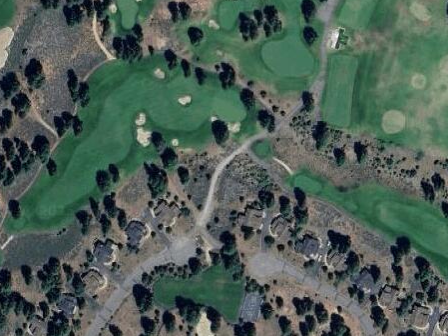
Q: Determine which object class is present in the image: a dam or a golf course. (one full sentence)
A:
The image shows a golf course.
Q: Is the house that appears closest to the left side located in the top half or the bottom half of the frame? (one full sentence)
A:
You can find the house that appears closest to the left side in the bottom half.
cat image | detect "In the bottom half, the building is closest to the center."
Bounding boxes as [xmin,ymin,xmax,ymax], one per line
[237,204,266,228]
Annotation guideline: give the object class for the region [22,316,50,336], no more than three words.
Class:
house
